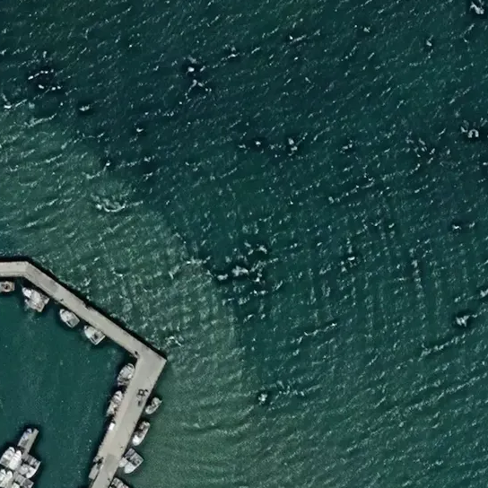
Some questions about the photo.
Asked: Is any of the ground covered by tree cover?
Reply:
No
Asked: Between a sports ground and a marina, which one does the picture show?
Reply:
marina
